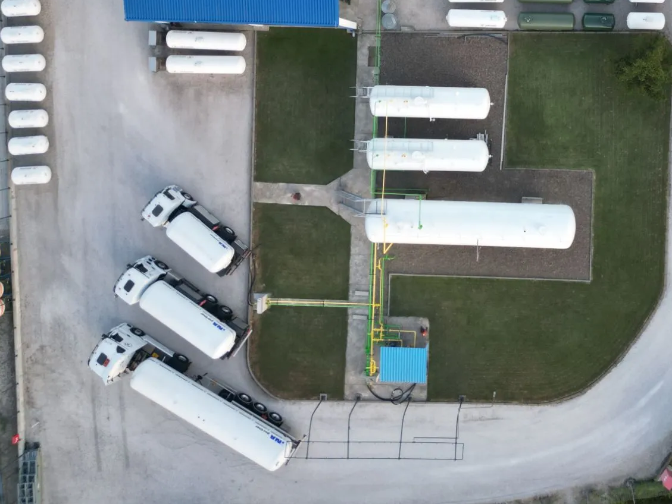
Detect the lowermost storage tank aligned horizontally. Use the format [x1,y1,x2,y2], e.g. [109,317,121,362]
[364,187,576,253]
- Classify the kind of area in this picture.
industrial area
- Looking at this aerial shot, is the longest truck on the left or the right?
left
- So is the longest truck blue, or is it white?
white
